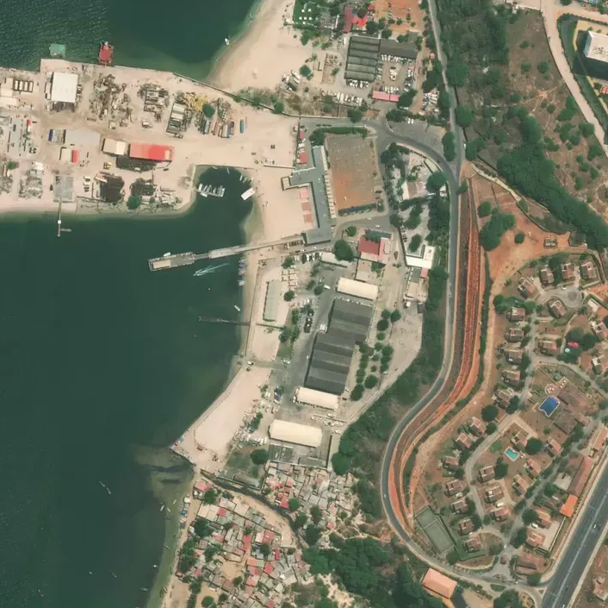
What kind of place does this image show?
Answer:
port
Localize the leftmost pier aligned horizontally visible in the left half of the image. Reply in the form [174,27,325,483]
[148,251,196,271]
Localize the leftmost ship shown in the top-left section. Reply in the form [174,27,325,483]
[49,43,65,59]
